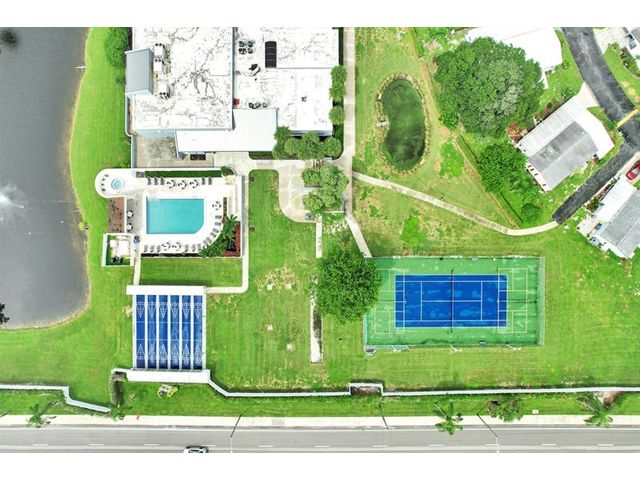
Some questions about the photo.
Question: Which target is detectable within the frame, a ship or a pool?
pool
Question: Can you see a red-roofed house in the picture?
No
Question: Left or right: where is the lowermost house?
right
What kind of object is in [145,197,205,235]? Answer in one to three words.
swimming pool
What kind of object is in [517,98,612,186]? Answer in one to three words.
house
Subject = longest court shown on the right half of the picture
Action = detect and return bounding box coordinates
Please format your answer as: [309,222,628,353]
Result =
[366,258,538,346]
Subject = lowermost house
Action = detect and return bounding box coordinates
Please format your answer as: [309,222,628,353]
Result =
[589,177,640,261]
